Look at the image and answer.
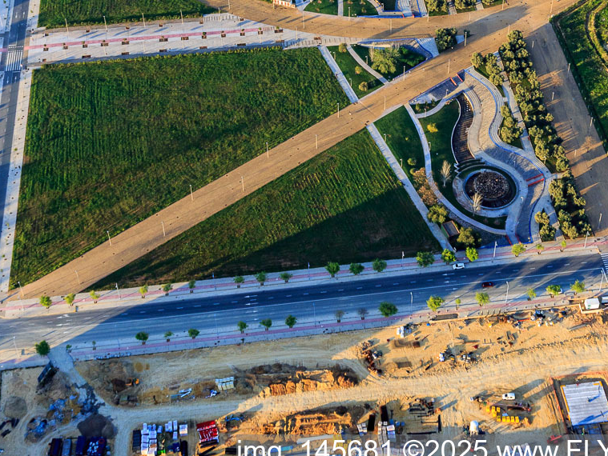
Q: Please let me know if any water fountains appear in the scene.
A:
Yes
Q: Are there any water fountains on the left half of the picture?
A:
No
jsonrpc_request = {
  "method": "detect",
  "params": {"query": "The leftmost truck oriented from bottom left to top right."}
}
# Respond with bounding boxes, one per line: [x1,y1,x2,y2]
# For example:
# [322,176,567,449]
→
[35,359,58,385]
